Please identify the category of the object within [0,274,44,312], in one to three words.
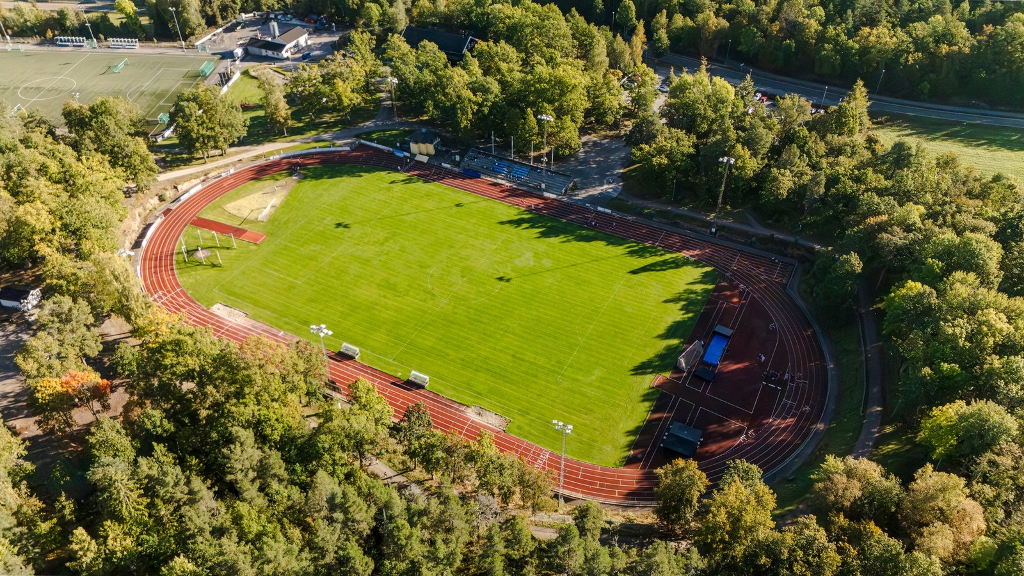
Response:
house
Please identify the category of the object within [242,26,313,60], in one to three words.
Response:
building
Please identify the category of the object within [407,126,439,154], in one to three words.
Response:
building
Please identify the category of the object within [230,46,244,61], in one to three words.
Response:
vehicle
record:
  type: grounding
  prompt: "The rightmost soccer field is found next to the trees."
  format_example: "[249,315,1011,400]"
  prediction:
[179,163,724,466]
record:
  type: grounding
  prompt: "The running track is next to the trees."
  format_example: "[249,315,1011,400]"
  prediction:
[147,151,827,500]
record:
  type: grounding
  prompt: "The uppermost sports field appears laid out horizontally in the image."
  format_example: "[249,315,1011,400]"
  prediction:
[0,49,224,134]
